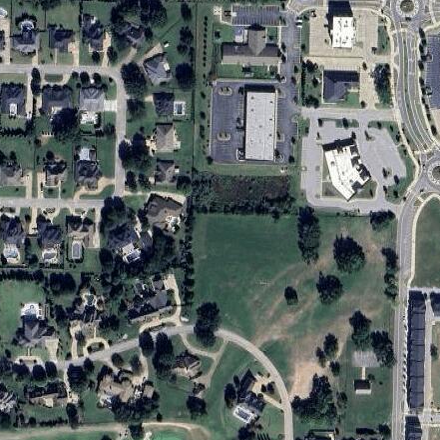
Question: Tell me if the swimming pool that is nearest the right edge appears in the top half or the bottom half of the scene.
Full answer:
You can find the swimming pool that is nearest the right edge in the bottom half.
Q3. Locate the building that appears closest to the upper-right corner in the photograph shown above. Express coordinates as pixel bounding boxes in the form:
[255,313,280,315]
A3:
[334,18,354,49]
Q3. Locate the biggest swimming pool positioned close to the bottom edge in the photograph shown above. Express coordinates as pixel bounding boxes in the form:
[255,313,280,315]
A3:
[232,405,254,424]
